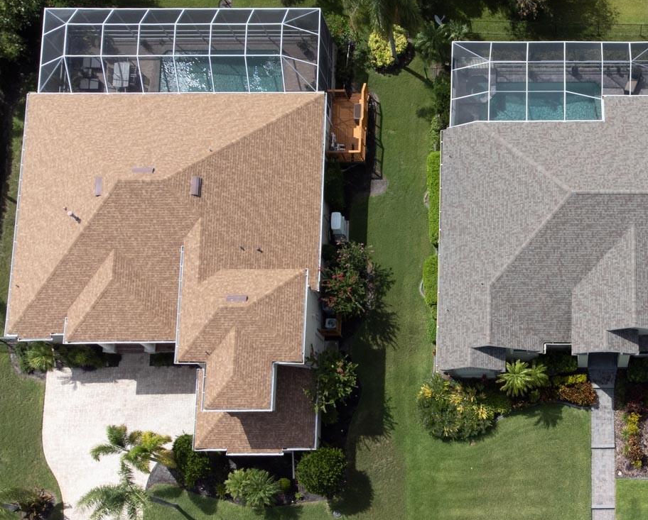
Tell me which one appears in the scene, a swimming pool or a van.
swimming pool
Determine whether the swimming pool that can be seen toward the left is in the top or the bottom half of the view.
top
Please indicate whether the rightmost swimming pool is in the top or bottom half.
top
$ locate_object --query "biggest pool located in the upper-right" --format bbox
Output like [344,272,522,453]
[486,77,605,119]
